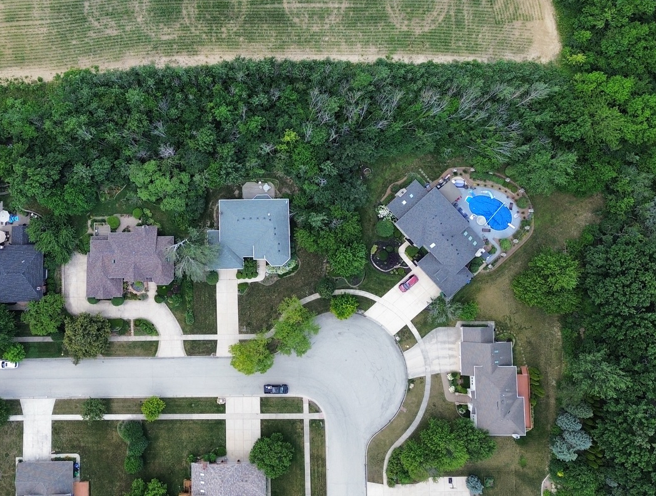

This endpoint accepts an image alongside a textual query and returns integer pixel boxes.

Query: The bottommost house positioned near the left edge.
[15,455,76,496]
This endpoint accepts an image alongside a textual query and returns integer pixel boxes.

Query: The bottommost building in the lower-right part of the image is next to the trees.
[457,325,526,439]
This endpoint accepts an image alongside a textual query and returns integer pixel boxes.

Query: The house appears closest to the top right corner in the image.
[385,179,486,297]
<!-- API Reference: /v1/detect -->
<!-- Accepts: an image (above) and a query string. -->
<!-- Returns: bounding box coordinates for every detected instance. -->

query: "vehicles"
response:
[264,383,289,395]
[398,273,419,292]
[0,360,19,369]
